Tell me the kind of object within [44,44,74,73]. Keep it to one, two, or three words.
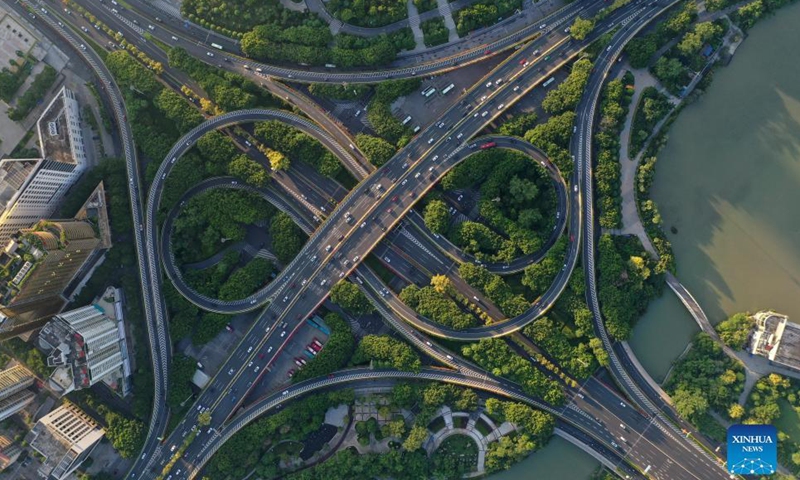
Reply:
shed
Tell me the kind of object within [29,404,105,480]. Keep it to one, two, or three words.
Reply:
building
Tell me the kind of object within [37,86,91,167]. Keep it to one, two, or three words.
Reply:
building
